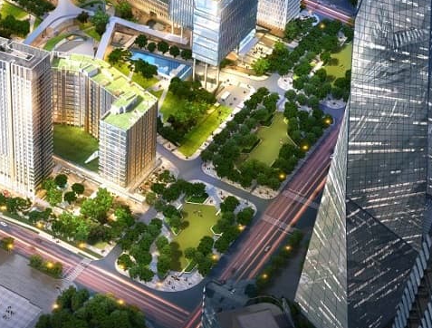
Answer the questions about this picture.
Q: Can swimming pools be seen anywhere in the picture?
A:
Yes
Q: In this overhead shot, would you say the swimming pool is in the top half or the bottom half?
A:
top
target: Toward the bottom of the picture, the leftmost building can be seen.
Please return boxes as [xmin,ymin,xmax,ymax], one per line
[203,274,293,328]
